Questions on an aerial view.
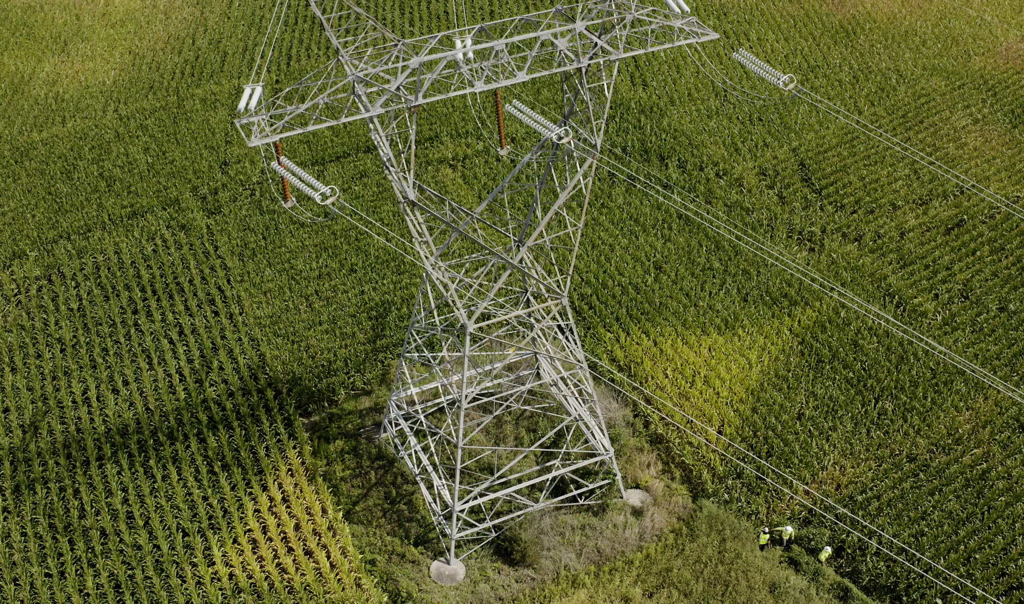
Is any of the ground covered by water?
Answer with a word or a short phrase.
No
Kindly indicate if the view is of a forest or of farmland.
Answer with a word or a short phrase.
farmland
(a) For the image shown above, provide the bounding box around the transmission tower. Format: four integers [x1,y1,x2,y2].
[235,0,719,561]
